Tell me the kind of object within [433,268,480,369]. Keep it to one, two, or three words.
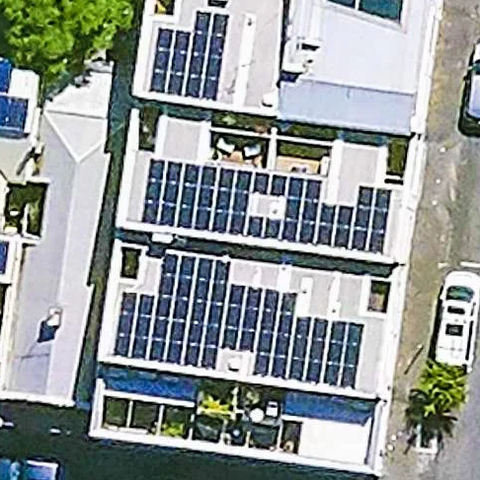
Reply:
car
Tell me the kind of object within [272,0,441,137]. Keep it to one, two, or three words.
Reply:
house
